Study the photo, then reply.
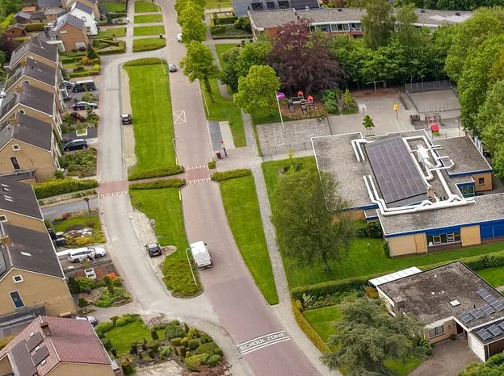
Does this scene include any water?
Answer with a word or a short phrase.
No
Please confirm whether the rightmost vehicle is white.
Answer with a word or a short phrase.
Yes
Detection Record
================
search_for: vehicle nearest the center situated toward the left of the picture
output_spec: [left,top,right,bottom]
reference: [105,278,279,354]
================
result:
[190,237,210,262]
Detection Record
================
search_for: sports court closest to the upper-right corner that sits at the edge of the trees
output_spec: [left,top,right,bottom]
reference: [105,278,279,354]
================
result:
[408,91,460,111]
